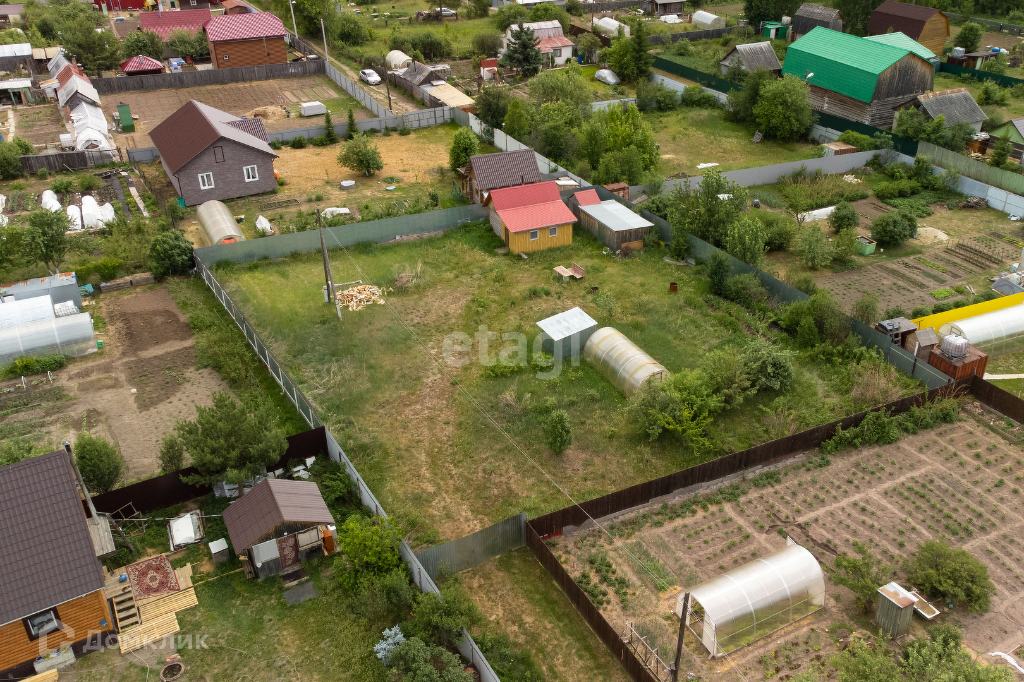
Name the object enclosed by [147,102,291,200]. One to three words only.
house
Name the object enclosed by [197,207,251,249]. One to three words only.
greenhouse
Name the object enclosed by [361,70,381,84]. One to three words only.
car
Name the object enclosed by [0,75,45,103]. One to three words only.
shed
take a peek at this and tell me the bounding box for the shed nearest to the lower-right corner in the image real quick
[871,577,918,635]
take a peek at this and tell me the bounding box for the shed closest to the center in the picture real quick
[530,307,597,362]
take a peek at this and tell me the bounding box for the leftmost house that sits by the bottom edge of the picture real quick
[0,440,111,676]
